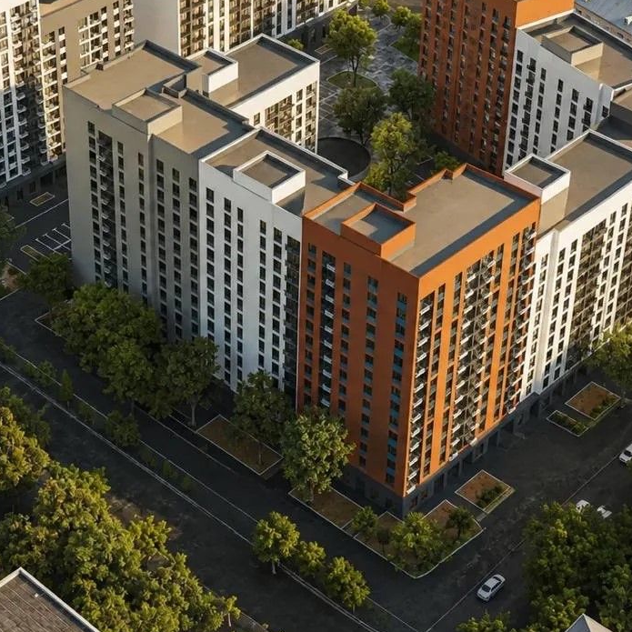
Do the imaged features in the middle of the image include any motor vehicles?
No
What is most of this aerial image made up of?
buildings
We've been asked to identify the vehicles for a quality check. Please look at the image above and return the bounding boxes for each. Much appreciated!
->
[618,442,632,464]
[591,501,614,516]
[477,574,502,597]
[569,496,594,515]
